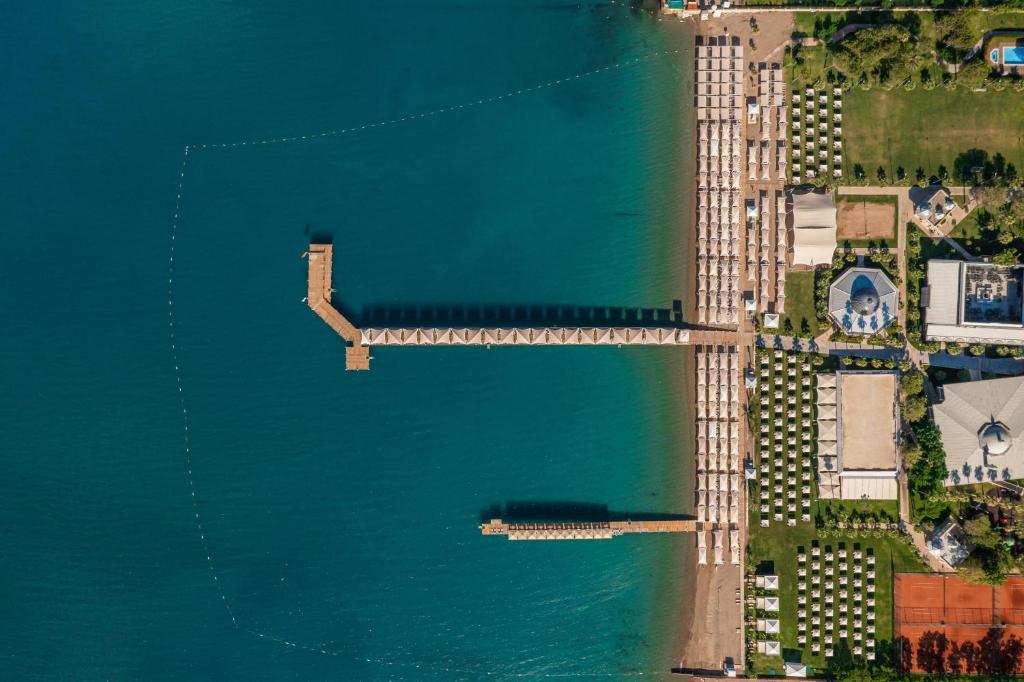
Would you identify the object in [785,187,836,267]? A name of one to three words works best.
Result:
tent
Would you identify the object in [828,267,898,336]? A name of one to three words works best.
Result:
building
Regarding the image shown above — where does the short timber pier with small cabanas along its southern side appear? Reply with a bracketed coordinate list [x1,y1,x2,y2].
[478,519,744,539]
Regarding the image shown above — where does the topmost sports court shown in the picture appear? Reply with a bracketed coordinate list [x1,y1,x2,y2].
[838,200,895,239]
